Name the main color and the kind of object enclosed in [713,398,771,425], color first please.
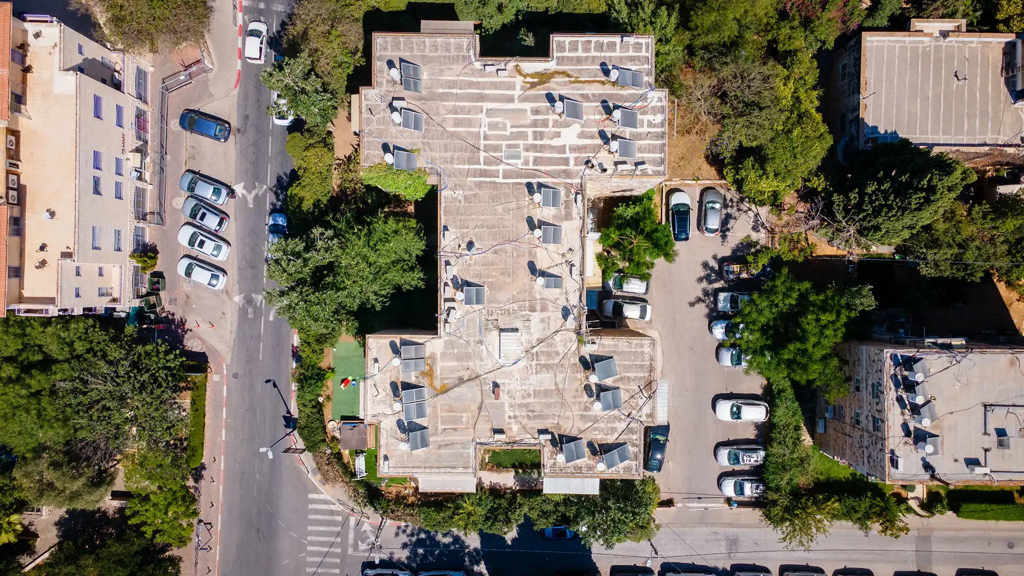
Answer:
white car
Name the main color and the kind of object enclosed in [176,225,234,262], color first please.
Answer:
white car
